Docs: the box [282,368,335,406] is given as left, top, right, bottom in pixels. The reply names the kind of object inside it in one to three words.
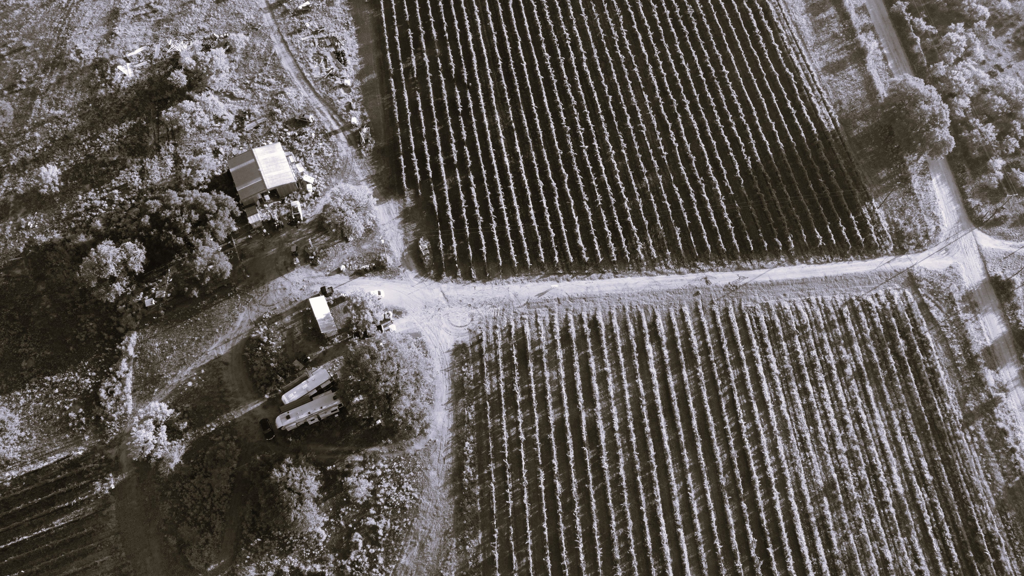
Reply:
trailer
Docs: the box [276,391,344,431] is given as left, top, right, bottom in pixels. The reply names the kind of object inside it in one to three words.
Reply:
trailer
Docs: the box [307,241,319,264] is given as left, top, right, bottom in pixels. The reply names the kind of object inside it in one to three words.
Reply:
vehicle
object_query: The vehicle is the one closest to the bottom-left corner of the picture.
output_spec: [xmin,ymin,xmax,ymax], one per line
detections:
[259,417,276,442]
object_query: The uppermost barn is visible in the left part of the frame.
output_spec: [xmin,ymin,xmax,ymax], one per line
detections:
[227,142,298,207]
